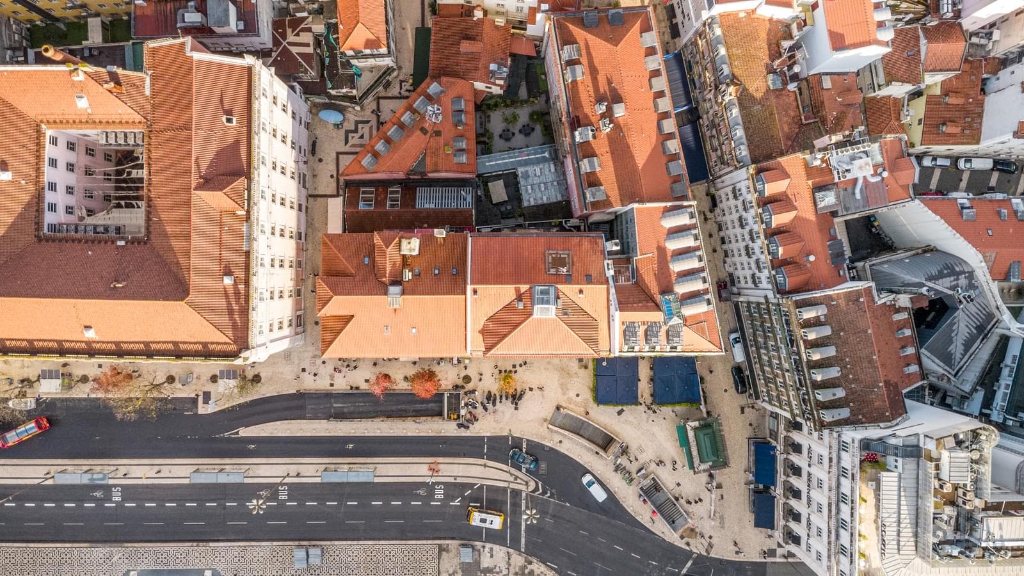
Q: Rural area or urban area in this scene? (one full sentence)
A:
From above, the setting appears urban.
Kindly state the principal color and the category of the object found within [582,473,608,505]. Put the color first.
white car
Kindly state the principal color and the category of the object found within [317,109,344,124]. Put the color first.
blue umbrella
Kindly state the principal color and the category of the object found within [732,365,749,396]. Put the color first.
black car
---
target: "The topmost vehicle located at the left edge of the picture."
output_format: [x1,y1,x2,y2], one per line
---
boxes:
[3,399,33,412]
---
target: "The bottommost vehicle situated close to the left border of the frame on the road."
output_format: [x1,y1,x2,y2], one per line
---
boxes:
[0,415,50,451]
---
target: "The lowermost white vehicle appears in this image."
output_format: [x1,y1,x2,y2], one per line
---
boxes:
[465,509,504,536]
